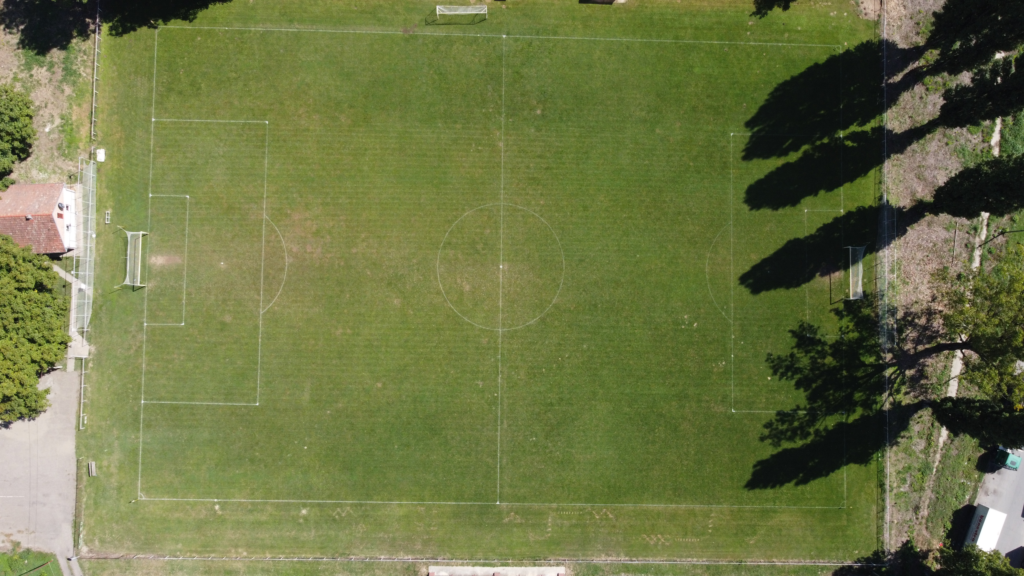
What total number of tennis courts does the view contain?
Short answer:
zero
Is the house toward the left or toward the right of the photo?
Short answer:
left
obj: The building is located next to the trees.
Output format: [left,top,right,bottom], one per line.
[0,183,76,255]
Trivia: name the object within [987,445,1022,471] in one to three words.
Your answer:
truck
